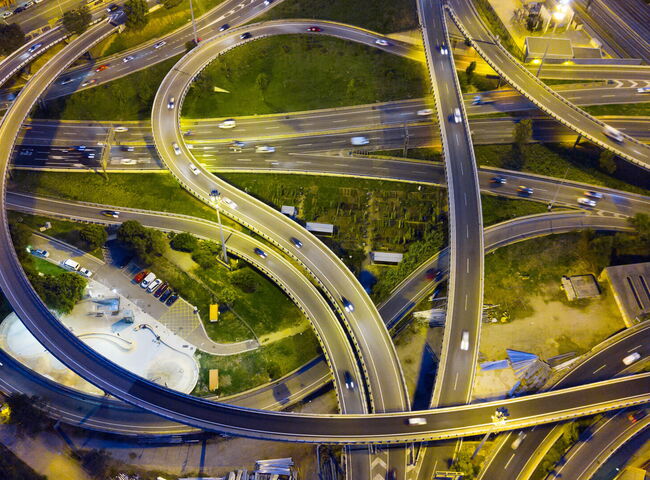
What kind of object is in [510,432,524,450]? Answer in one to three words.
car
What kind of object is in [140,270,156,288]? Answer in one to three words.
vehicle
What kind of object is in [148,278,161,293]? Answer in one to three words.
vehicle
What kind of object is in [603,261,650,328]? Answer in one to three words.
building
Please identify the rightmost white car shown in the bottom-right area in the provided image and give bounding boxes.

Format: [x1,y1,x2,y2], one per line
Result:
[622,352,638,364]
